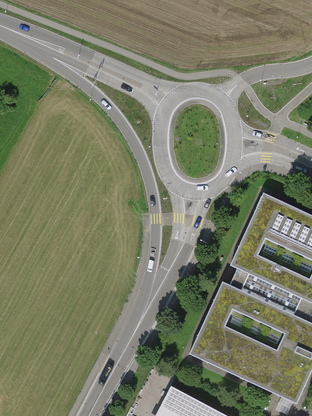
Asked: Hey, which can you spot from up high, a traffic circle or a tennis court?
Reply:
traffic circle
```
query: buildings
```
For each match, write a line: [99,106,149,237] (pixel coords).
[228,194,312,303]
[190,282,312,402]
[155,386,228,416]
